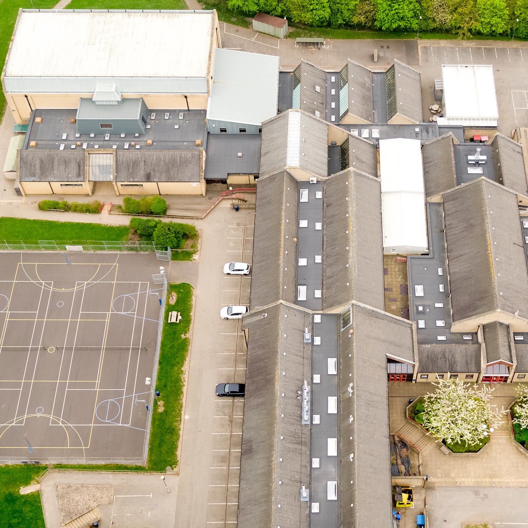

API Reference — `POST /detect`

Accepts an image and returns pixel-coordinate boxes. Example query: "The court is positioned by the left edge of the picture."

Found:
[0,252,171,465]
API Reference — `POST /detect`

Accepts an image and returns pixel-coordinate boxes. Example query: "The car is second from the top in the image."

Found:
[220,305,248,320]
